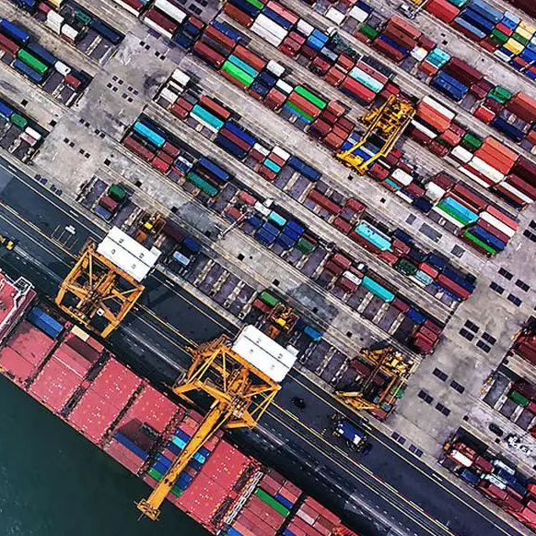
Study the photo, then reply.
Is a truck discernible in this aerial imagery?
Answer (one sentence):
Yes, there is a truck in the image.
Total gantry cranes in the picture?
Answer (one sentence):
My tally gives 4 gantry cranes in this view.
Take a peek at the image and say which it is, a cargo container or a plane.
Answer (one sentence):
This aerial view contains a cargo container.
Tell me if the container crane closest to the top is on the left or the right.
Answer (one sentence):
The container crane closest to the top is on the right side of the image.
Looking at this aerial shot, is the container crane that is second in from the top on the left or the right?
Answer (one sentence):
The container crane that is second in from the top sits on the left side.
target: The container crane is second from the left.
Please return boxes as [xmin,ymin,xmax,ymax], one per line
[134,302,308,523]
